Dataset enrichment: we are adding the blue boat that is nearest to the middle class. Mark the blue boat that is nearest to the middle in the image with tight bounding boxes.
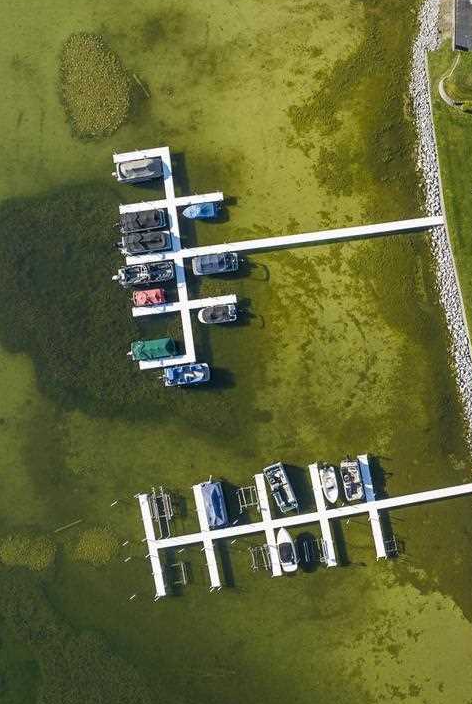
[164,363,210,386]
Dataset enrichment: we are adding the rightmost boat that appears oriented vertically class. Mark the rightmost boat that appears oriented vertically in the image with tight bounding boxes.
[340,458,365,502]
